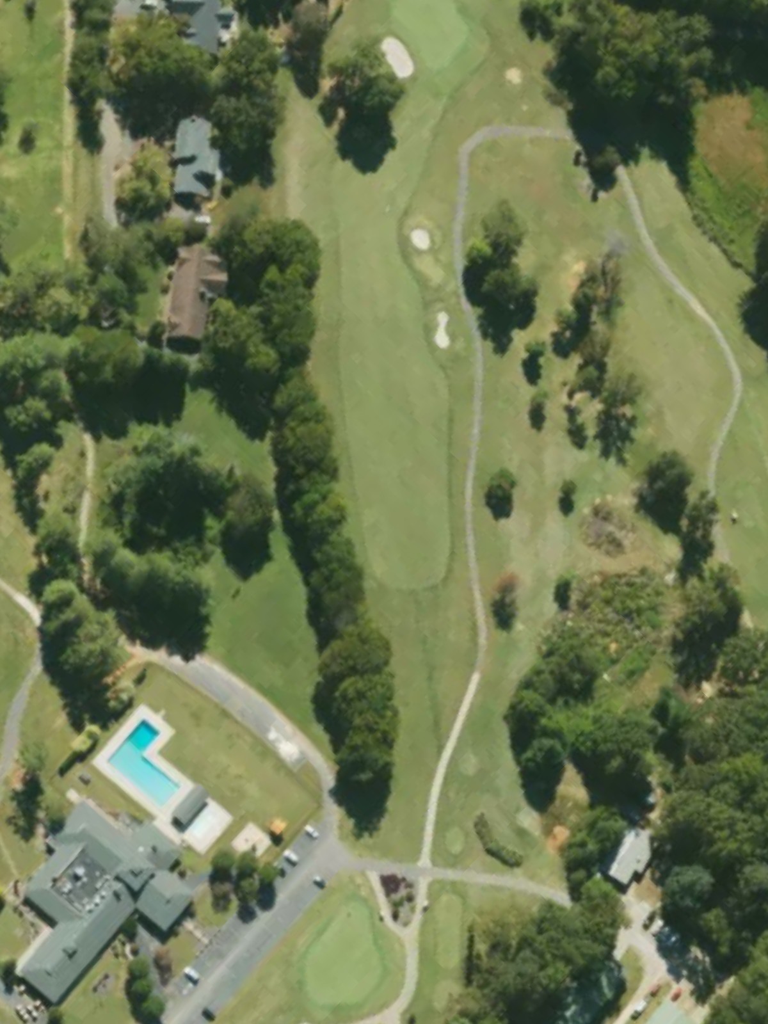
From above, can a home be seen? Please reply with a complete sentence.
Yes, the frame does contain a home.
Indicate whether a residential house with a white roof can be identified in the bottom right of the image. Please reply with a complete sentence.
Yes, a residential house with a white roof is visible in the bottom right of the image.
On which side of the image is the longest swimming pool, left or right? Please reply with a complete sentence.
It is on the left.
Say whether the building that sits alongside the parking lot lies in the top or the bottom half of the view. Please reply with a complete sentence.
You can find the building that sits alongside the parking lot in the bottom half.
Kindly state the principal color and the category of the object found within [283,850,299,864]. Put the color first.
white vehicle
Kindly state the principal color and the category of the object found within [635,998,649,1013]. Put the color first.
white car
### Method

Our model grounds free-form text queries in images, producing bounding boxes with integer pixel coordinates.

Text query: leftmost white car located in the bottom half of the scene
[184,968,199,981]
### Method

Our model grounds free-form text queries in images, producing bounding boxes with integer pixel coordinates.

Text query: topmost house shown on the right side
[607,829,655,885]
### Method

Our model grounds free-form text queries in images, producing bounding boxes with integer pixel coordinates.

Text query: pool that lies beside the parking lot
[93,705,233,854]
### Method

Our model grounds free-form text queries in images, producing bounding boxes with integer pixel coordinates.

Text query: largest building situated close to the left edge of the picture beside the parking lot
[18,802,193,1003]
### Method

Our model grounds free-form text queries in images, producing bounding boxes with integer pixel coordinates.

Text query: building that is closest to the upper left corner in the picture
[165,0,233,50]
